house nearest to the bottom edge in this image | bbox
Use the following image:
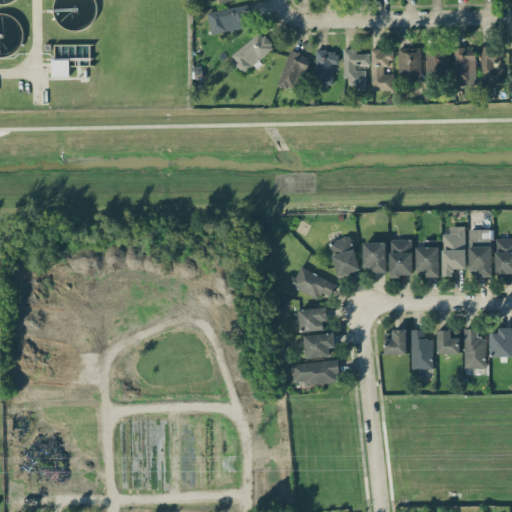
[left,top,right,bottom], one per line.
[292,362,339,386]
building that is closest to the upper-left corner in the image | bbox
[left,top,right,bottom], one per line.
[50,59,69,77]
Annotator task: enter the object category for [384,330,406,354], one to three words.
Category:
house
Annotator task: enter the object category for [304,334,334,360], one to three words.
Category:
house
